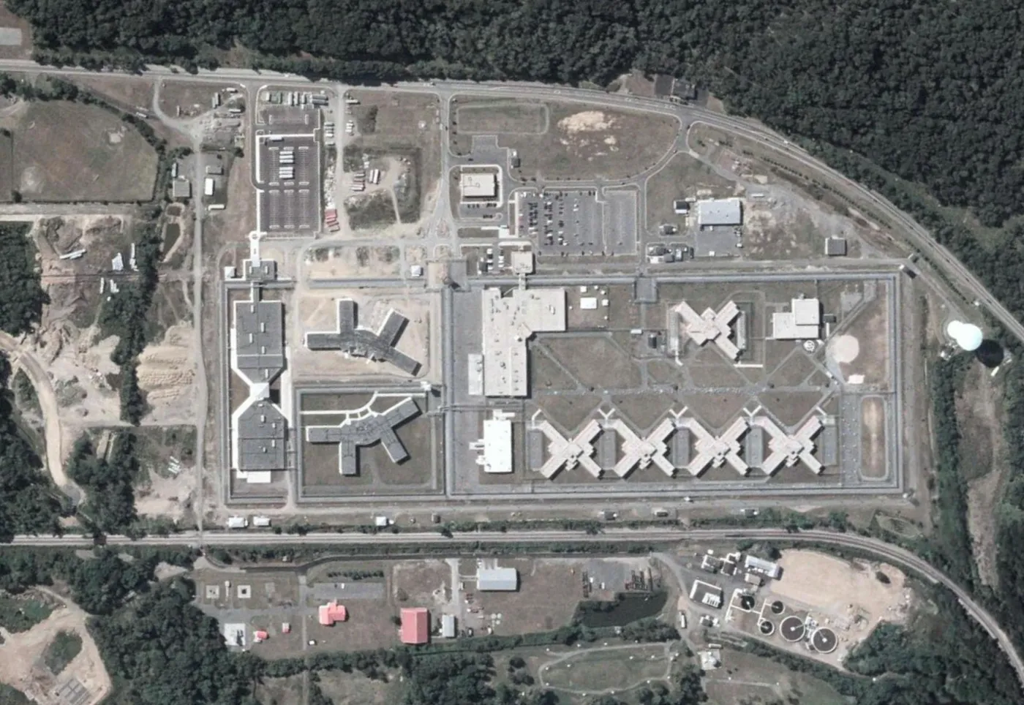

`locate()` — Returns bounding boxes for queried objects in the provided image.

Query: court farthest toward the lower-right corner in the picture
[823,426,837,464]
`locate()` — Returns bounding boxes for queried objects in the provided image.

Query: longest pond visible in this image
[576,592,667,627]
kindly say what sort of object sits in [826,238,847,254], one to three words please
building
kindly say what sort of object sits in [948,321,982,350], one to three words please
water tower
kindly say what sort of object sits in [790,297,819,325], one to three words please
building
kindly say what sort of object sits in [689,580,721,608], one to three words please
house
